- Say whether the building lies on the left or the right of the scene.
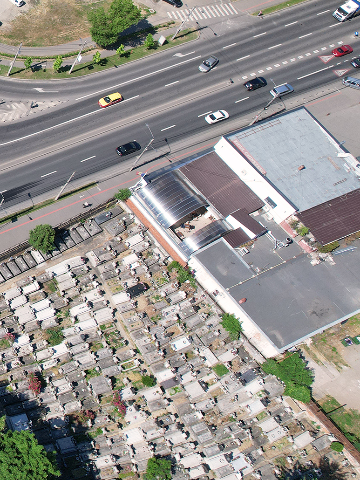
right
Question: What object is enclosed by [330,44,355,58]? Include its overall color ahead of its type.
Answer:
red vehicle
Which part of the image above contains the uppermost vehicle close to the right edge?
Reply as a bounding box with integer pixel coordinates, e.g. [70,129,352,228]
[334,1,360,26]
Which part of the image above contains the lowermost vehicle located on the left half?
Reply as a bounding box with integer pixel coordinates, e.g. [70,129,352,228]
[114,140,142,156]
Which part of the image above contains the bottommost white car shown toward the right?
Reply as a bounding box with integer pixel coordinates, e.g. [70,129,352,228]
[203,110,230,124]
